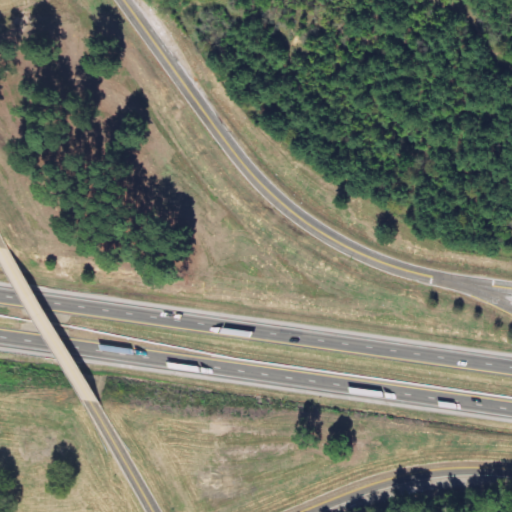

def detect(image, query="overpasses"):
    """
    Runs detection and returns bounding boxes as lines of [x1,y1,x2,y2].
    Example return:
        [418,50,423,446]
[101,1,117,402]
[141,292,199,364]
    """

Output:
[0,240,100,410]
